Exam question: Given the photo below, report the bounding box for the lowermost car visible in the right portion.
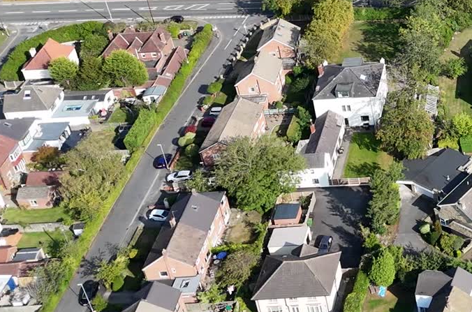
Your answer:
[318,230,333,248]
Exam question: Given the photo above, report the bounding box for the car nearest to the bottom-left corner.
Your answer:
[78,280,98,305]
